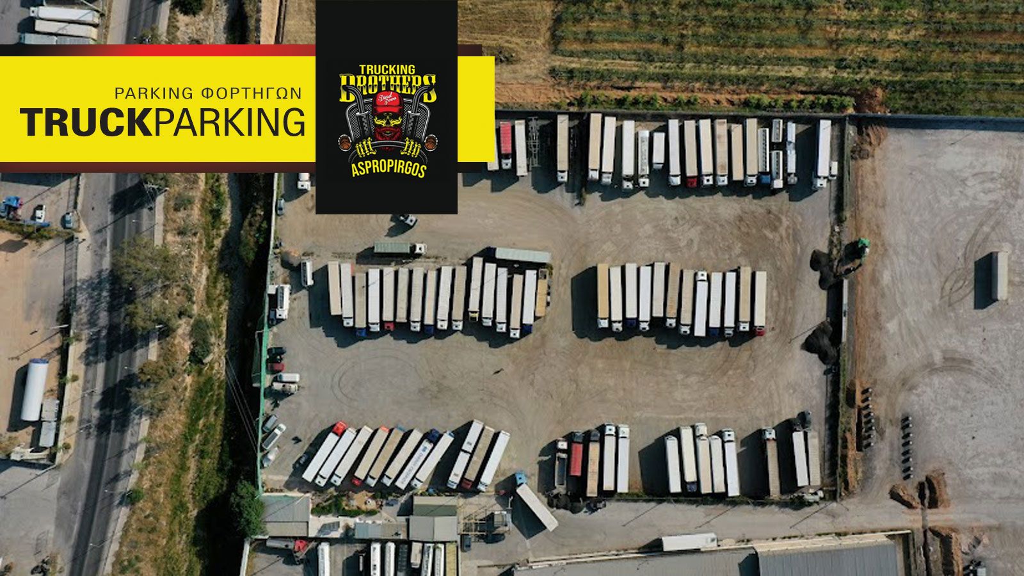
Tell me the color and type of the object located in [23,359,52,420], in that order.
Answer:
white storage tank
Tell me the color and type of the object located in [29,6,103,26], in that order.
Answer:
white vehicle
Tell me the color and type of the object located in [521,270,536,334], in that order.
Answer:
white vehicle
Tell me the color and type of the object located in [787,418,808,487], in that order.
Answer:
white truck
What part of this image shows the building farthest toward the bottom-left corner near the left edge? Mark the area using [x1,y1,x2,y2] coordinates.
[39,420,61,447]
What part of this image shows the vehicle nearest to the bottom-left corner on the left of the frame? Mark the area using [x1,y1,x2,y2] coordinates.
[12,447,50,460]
